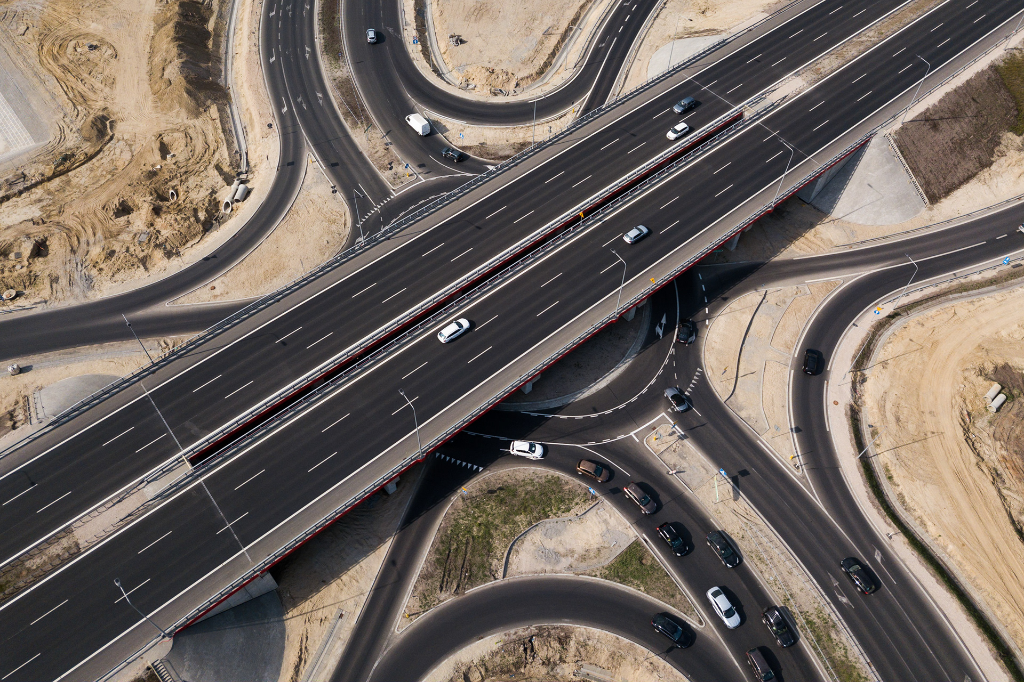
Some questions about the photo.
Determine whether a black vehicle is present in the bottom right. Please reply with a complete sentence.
Yes, there is a black vehicle in the bottom right.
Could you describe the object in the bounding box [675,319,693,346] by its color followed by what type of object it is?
black car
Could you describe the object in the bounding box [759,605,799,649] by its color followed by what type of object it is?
black car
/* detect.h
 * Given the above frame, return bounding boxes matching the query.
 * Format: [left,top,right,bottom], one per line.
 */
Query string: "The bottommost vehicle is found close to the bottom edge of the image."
[743,646,778,682]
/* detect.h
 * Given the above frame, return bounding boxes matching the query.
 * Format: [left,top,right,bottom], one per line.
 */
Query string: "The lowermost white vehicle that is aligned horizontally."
[509,441,544,461]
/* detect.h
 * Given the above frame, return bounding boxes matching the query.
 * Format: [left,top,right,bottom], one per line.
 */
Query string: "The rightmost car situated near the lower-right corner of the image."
[838,558,877,597]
